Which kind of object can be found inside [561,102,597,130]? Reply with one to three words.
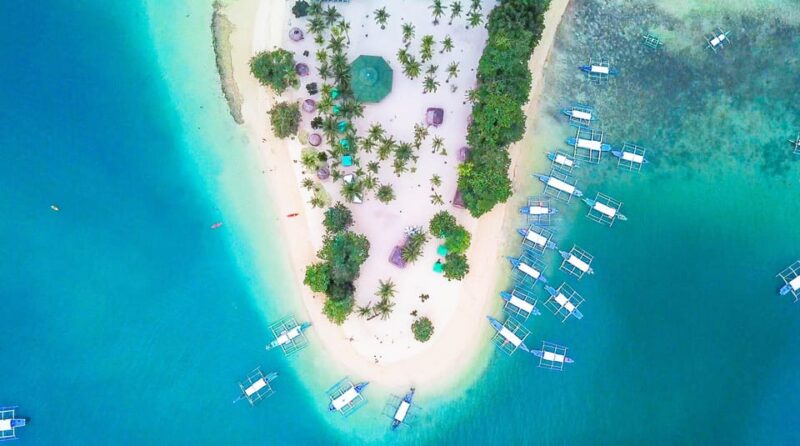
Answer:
boat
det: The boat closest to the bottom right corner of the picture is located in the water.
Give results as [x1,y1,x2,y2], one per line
[778,258,800,301]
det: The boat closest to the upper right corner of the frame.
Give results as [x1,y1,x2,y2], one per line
[700,28,733,57]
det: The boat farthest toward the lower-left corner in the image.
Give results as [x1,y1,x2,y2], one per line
[0,402,27,444]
